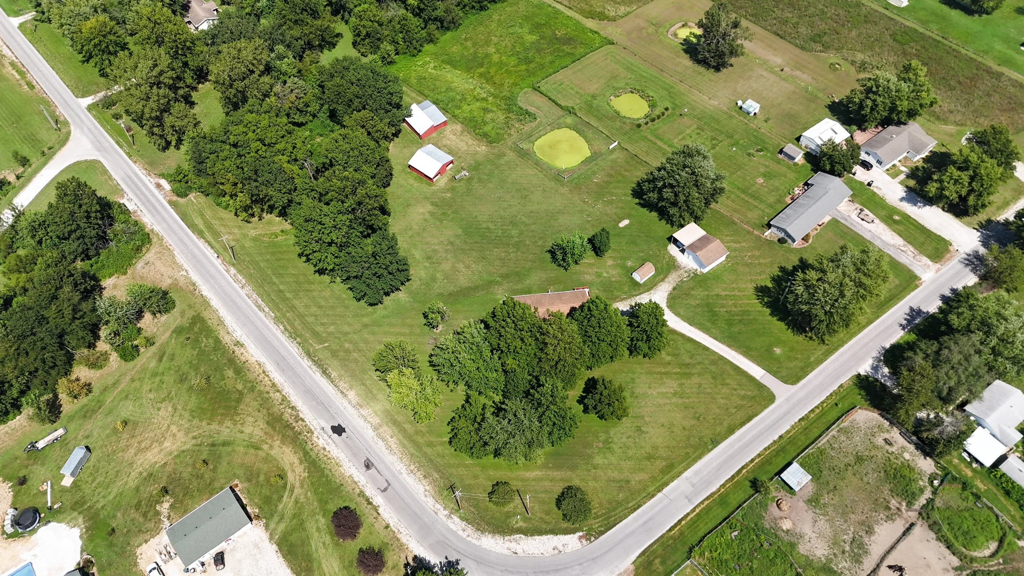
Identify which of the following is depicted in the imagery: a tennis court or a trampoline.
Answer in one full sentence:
The one in the frame is a trampoline.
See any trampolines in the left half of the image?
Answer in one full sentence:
Yes, a trampoline is visible in the left half of the image.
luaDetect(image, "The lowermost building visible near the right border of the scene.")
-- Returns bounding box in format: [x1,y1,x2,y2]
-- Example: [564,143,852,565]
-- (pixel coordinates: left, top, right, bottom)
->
[994,454,1024,499]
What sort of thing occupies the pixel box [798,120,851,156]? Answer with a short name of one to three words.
building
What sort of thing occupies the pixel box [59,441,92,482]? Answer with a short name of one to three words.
trailer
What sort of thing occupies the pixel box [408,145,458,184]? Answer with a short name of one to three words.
barn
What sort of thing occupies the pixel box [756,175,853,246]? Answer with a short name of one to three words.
house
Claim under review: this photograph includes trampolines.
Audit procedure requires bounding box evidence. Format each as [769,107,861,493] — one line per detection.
[9,505,39,530]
